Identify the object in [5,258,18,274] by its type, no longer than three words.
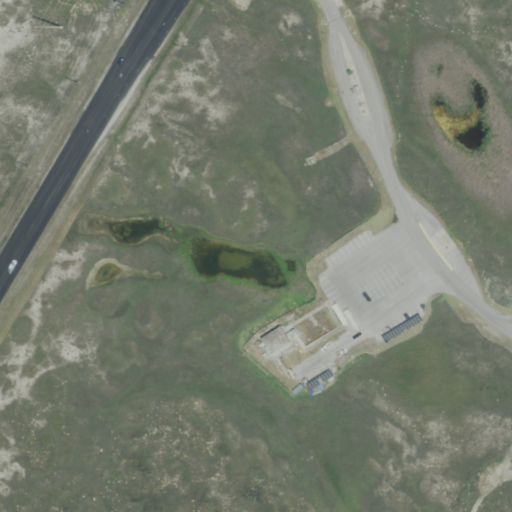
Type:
vehicle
